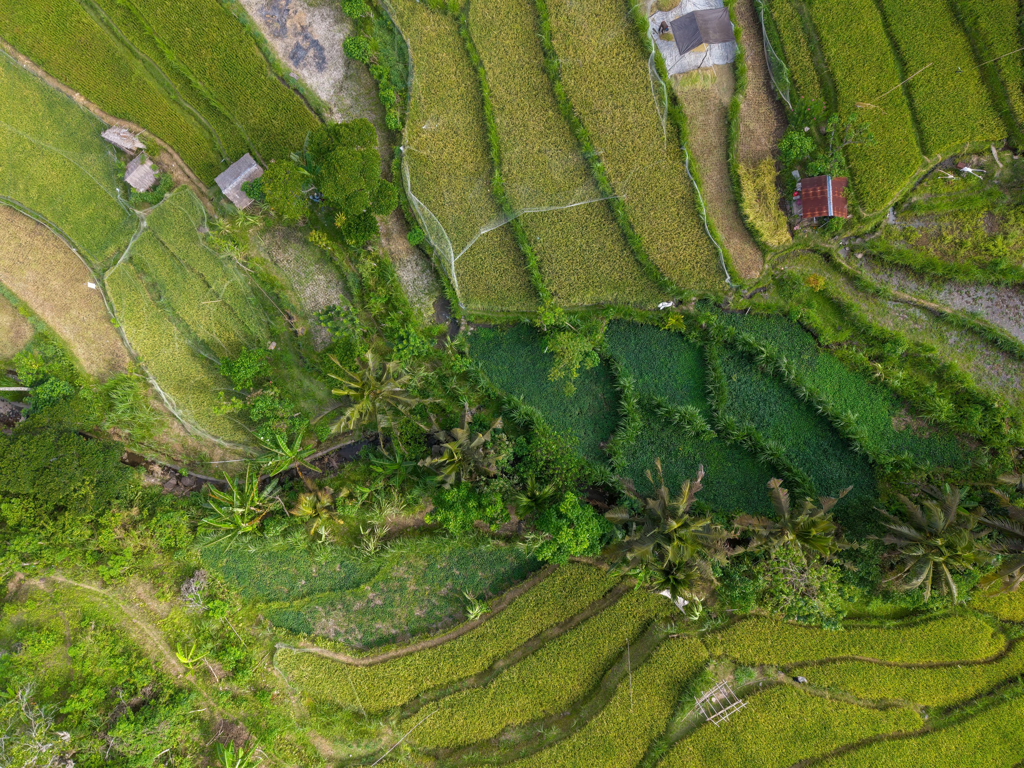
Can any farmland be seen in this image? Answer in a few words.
Yes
